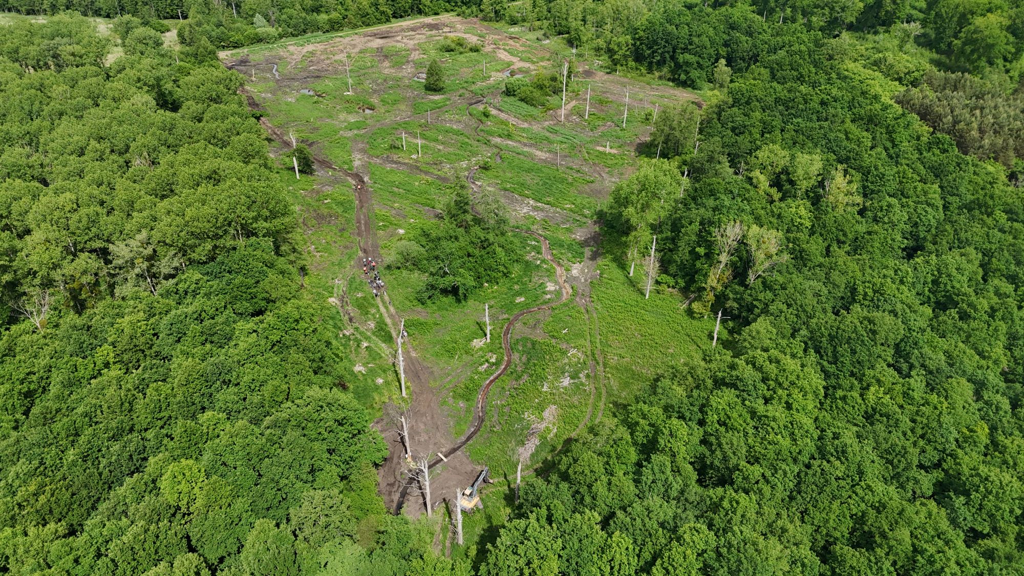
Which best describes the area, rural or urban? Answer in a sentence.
From above, the setting appears rural.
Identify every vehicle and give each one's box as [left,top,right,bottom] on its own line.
[460,465,494,514]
